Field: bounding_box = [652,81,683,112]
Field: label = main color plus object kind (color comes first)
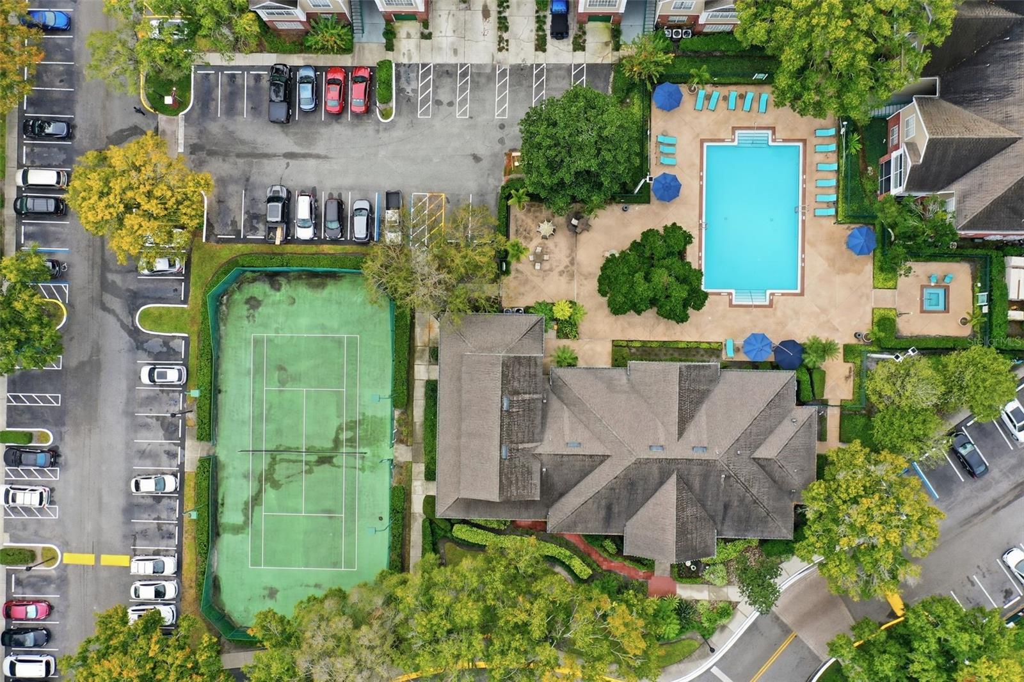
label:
blue umbrella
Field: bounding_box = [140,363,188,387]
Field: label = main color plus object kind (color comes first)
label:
white car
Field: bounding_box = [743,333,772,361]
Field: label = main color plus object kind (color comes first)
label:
blue umbrella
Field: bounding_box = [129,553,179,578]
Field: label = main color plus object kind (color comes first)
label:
white car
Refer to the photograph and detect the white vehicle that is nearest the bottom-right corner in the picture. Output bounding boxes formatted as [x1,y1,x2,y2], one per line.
[1004,547,1024,588]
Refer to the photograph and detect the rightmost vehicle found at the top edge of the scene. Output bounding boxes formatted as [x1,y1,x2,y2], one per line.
[547,0,571,43]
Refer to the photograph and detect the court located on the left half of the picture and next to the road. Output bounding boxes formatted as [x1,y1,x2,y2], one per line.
[214,271,395,631]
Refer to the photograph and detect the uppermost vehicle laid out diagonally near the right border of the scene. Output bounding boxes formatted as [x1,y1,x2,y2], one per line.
[950,431,991,480]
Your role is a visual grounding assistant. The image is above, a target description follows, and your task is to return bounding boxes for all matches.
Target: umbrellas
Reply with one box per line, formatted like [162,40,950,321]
[651,173,681,202]
[575,216,592,233]
[773,340,803,369]
[537,219,555,238]
[743,333,772,361]
[652,81,683,112]
[846,227,876,255]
